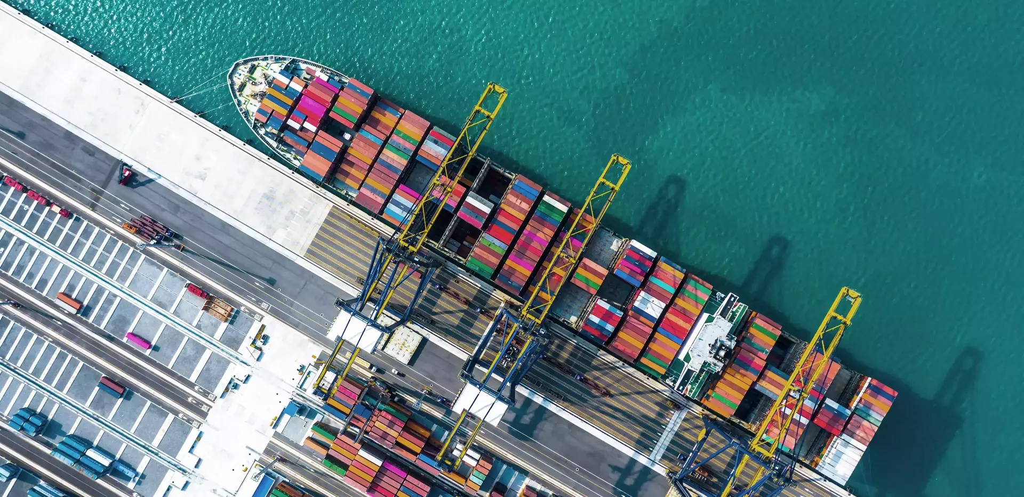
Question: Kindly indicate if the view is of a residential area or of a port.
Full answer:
It's a port.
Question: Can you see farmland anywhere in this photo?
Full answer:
No, farmland can't be seen anywhere here.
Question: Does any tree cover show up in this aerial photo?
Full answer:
No, tree cover can't be seen anywhere here.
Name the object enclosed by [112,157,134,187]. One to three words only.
work vehicle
